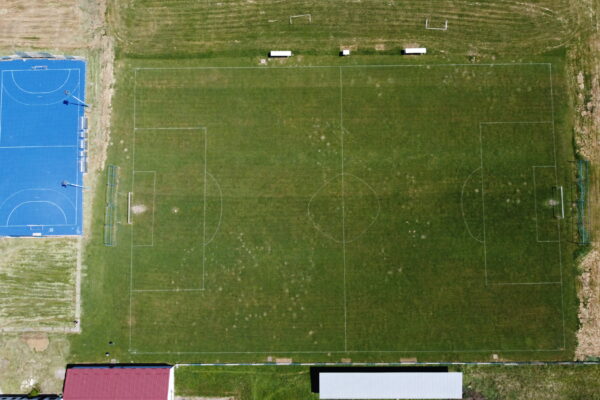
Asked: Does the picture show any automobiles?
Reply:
No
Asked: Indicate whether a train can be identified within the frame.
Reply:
No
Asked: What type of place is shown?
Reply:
sports ground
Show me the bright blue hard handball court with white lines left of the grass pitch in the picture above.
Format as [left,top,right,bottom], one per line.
[0,59,88,238]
